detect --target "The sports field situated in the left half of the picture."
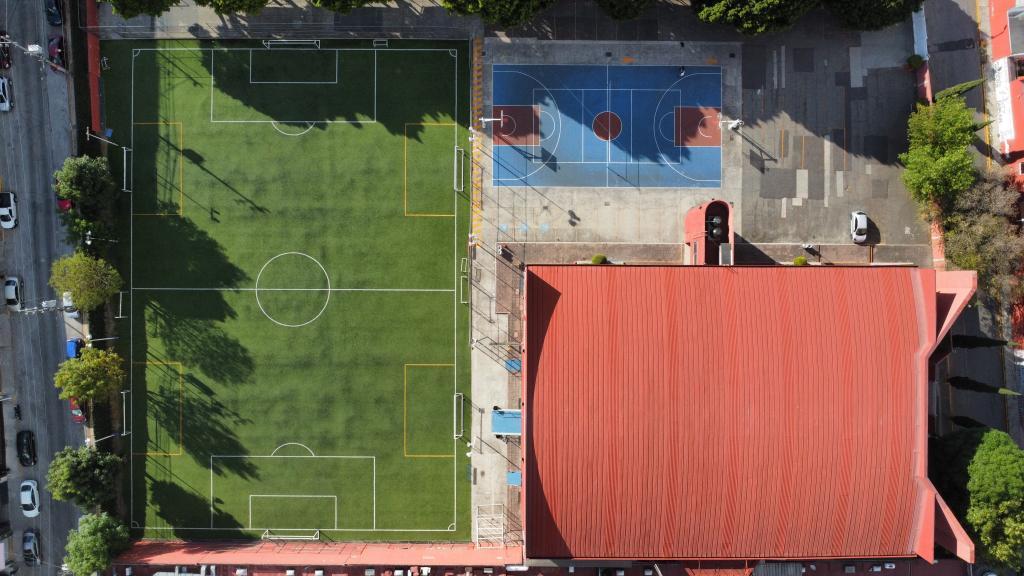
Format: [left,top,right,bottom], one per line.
[103,40,470,541]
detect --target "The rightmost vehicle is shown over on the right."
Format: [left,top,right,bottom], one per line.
[850,211,870,243]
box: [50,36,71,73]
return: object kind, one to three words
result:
car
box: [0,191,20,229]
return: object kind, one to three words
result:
vehicle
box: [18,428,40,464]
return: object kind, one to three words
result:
car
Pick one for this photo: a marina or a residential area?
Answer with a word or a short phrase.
residential area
